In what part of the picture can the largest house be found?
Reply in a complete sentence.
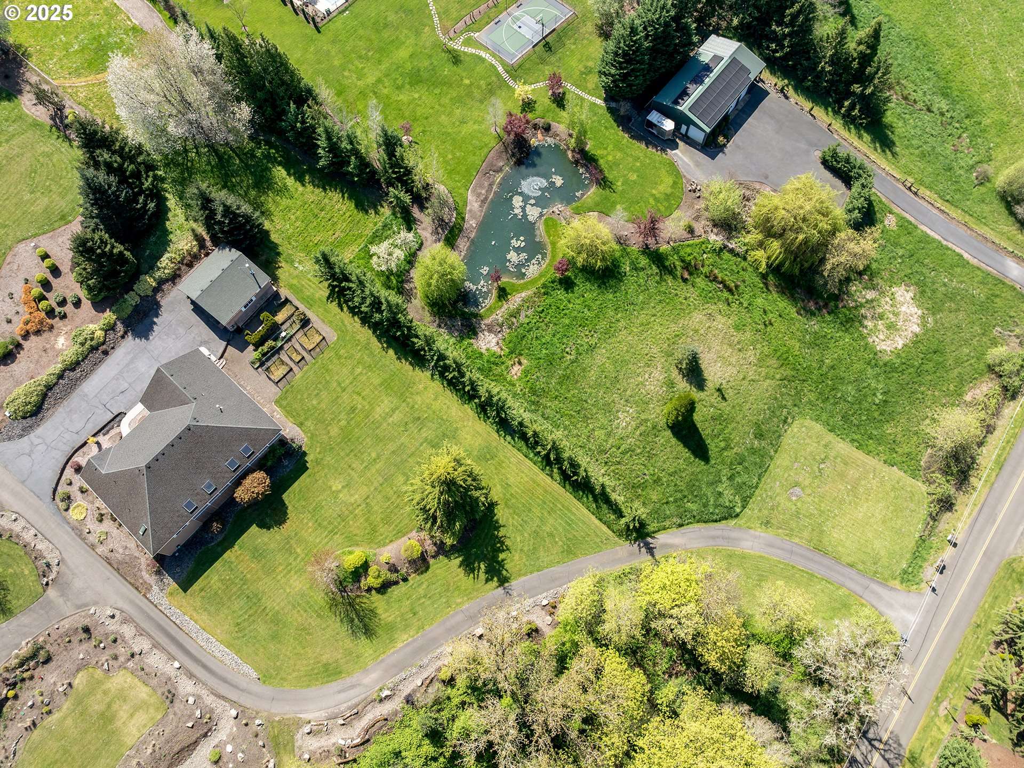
The largest house sits in the left section of the image.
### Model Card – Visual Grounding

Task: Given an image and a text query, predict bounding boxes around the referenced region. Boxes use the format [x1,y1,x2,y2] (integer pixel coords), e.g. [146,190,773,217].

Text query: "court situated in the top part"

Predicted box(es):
[478,0,578,64]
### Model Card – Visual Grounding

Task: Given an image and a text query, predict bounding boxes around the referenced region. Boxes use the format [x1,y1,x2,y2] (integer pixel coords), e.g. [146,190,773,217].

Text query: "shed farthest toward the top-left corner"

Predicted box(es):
[181,241,279,327]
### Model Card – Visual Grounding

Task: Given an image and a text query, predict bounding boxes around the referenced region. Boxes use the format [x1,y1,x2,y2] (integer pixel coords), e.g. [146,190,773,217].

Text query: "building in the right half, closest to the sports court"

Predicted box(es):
[656,29,766,143]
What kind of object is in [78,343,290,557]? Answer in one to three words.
house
